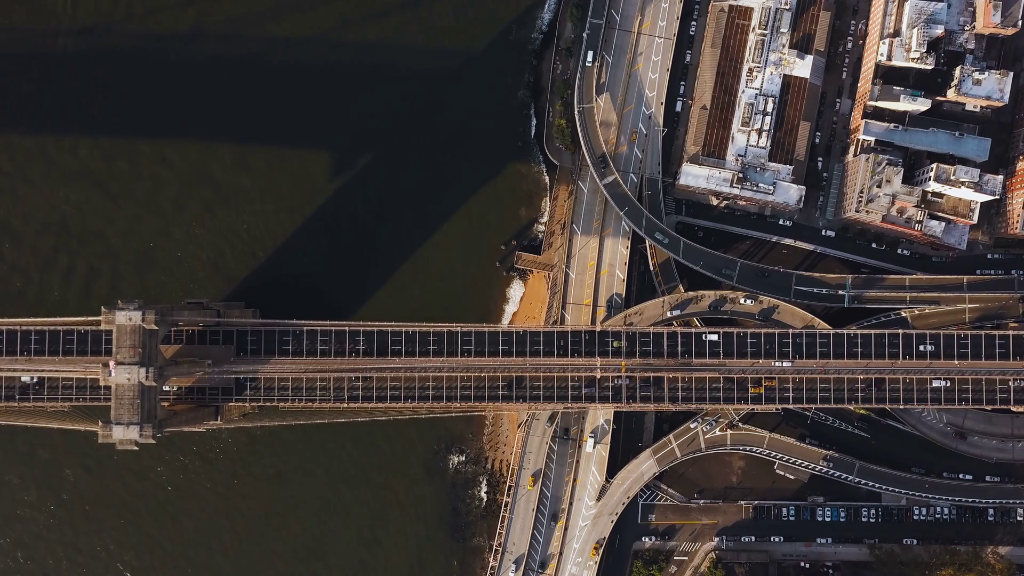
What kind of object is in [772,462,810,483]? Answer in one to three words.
shed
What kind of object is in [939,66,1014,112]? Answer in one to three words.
house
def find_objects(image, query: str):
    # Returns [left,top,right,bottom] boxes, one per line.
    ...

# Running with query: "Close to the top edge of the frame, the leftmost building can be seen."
[680,0,836,184]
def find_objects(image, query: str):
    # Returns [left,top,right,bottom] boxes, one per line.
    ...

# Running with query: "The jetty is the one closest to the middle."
[514,252,552,273]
